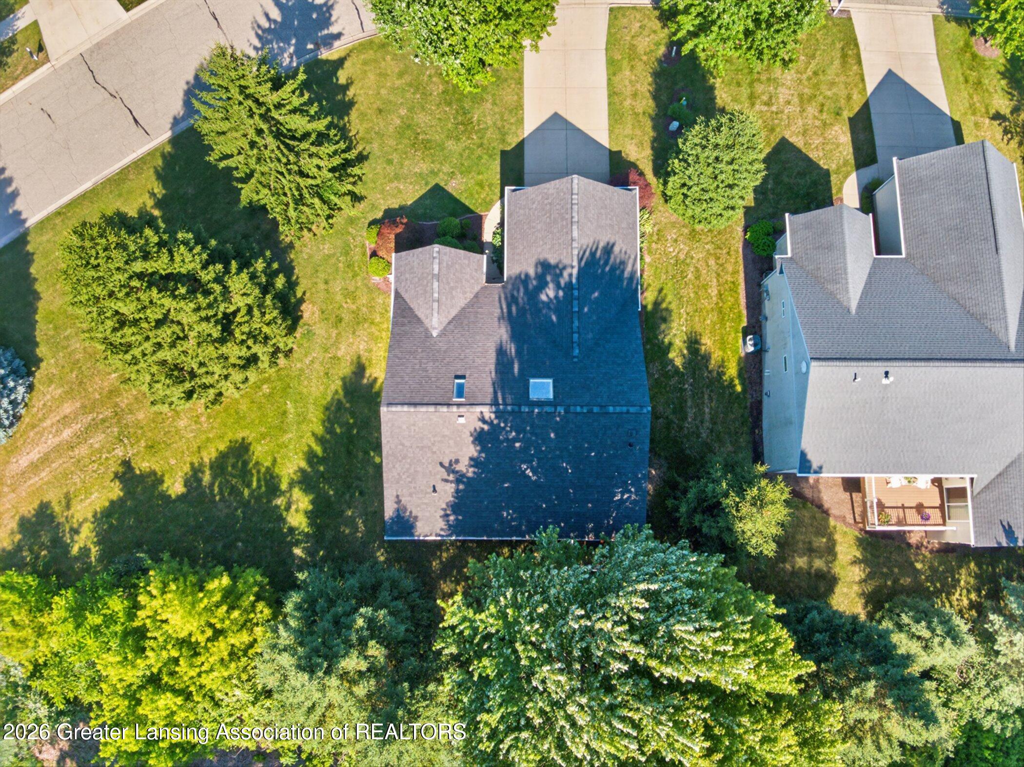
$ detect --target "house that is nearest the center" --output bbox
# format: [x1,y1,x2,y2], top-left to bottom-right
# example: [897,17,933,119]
[379,174,653,542]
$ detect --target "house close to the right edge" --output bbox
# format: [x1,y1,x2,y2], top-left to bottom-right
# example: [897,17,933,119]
[757,137,1024,549]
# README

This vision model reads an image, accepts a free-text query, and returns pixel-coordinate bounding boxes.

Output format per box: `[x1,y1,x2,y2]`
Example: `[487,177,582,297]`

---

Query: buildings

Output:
[757,137,1024,549]
[379,174,653,542]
